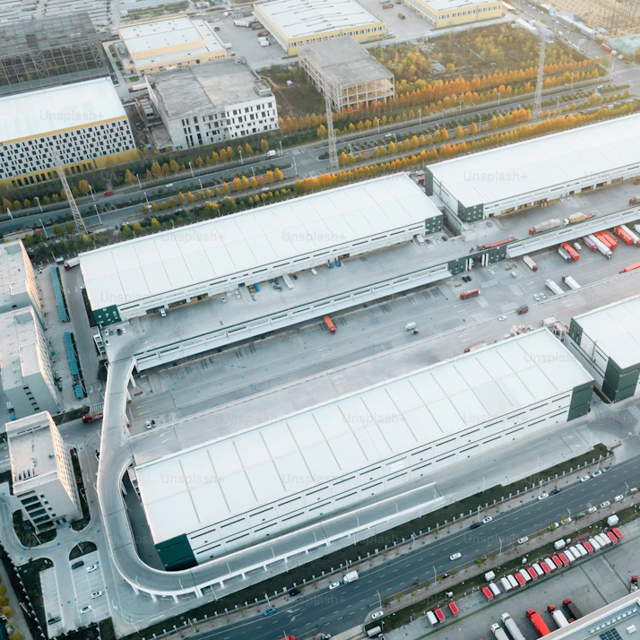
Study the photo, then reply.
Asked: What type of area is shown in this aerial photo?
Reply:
industrial area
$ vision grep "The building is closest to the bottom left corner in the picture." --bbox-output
[2,404,82,536]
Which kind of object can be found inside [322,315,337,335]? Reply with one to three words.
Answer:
vehicle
